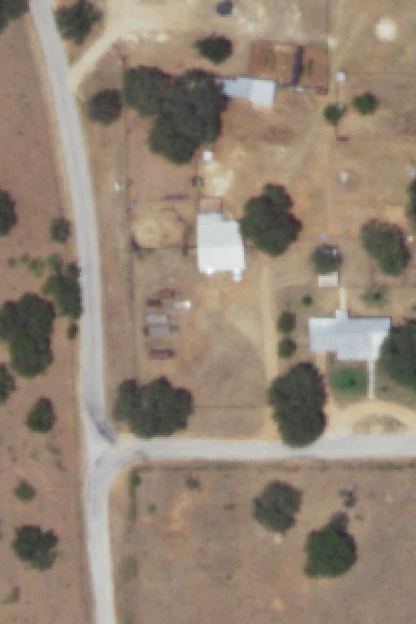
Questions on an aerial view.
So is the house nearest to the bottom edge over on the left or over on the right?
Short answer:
right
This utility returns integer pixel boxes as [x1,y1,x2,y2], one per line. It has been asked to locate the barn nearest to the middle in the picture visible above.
[196,213,244,275]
